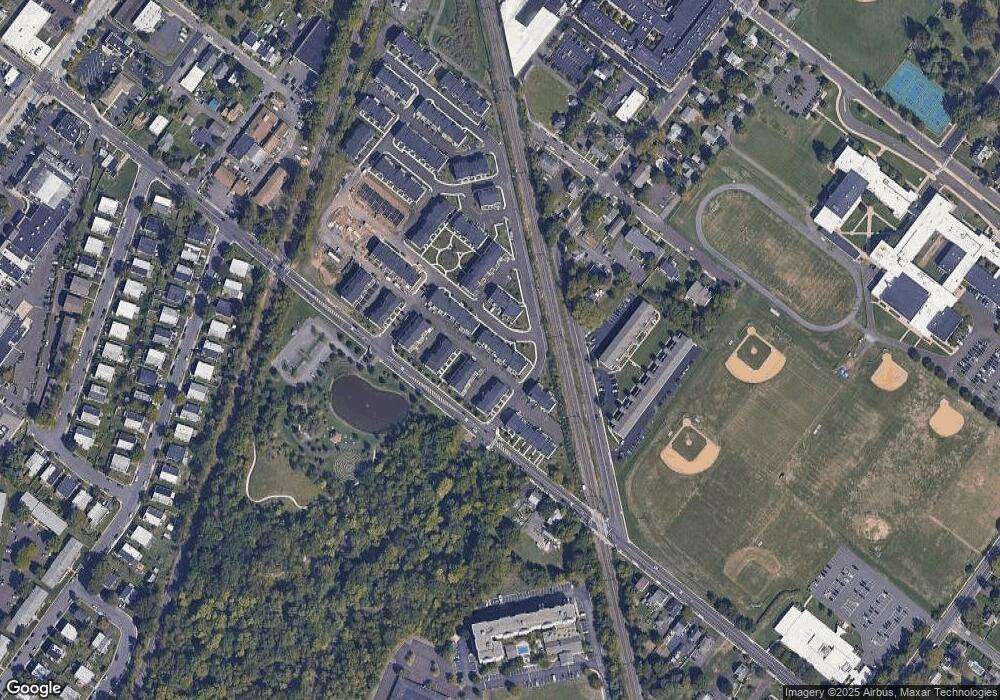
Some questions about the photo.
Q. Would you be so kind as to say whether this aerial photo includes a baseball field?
Yes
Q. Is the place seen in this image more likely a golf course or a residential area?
residential area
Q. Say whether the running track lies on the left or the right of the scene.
right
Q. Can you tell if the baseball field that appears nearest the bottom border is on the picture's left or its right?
right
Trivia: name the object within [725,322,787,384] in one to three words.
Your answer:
baseball field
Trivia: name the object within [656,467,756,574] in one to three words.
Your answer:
soccer field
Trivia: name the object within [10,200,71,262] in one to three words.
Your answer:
building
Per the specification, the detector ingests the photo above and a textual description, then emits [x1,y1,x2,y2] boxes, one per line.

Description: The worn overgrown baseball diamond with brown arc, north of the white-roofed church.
[724,546,782,608]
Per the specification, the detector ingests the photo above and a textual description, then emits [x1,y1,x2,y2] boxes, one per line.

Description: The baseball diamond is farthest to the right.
[929,398,965,437]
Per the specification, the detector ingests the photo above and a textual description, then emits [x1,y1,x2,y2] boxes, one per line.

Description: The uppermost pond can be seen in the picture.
[331,375,408,432]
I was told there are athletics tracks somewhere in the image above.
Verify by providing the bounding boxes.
[696,185,863,330]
